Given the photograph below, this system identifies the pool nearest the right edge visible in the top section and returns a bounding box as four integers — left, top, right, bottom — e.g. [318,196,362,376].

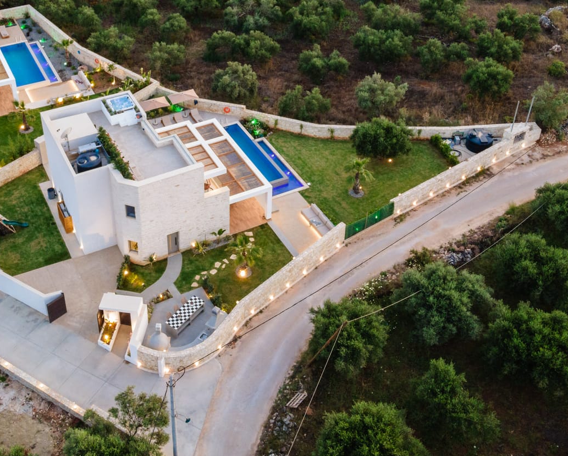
[255,136,308,199]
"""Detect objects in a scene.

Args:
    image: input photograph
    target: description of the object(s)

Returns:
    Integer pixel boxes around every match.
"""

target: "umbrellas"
[168,87,200,104]
[139,96,171,127]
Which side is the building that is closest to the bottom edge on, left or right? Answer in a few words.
left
